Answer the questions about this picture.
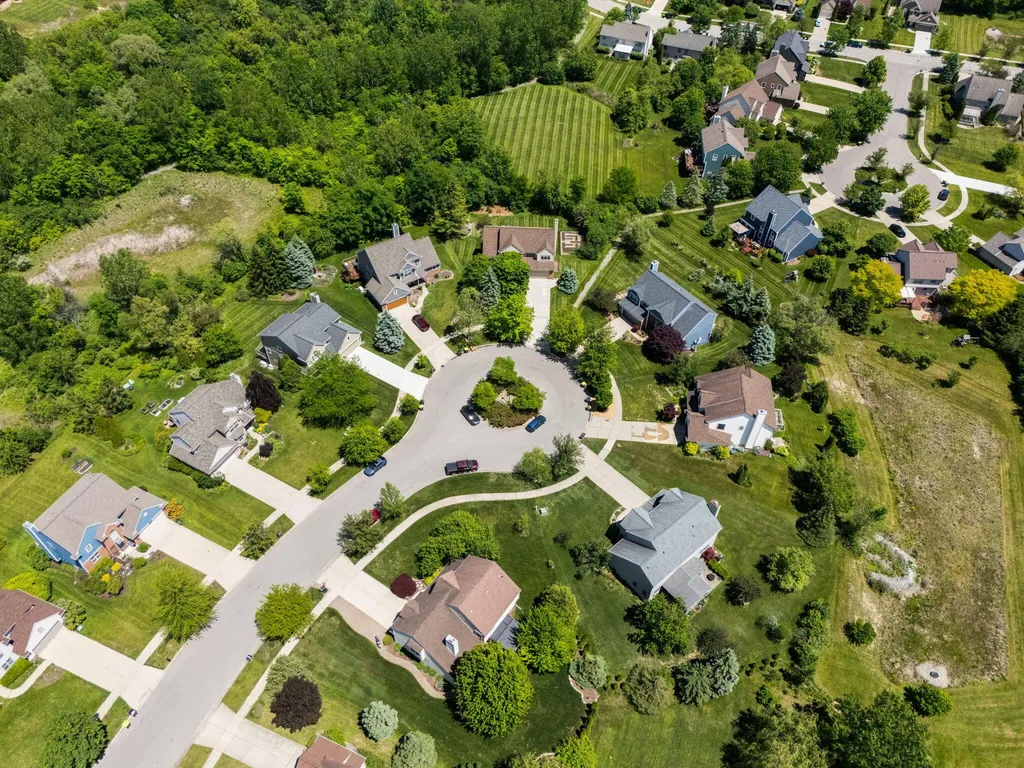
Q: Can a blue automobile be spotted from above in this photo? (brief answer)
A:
Yes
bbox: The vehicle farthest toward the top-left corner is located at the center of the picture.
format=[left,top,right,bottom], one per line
[411,313,431,331]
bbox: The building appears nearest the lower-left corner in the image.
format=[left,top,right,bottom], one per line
[0,588,65,676]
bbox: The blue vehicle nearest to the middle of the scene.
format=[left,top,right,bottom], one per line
[524,414,547,433]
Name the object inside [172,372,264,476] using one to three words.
house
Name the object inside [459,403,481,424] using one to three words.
car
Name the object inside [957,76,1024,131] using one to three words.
house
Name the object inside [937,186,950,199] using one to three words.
vehicle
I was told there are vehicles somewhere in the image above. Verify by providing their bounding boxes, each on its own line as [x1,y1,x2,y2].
[819,40,835,48]
[459,403,481,424]
[847,40,862,49]
[937,186,950,199]
[815,17,822,25]
[444,457,480,474]
[362,454,389,477]
[524,414,547,433]
[888,224,908,238]
[411,313,431,331]
[362,503,381,525]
